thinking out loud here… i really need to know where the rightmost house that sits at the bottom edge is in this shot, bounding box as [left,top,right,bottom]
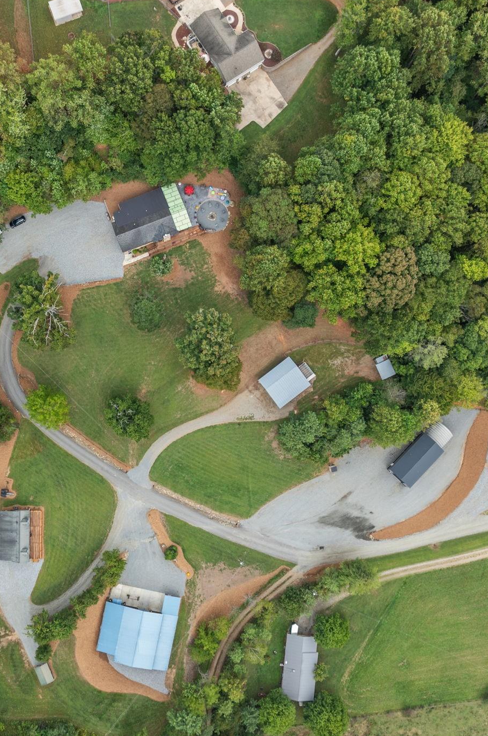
[280,631,318,706]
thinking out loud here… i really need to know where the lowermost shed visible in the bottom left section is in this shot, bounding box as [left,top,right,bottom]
[34,662,55,685]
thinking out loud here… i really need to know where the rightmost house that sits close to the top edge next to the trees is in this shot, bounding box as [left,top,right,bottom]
[190,9,264,87]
